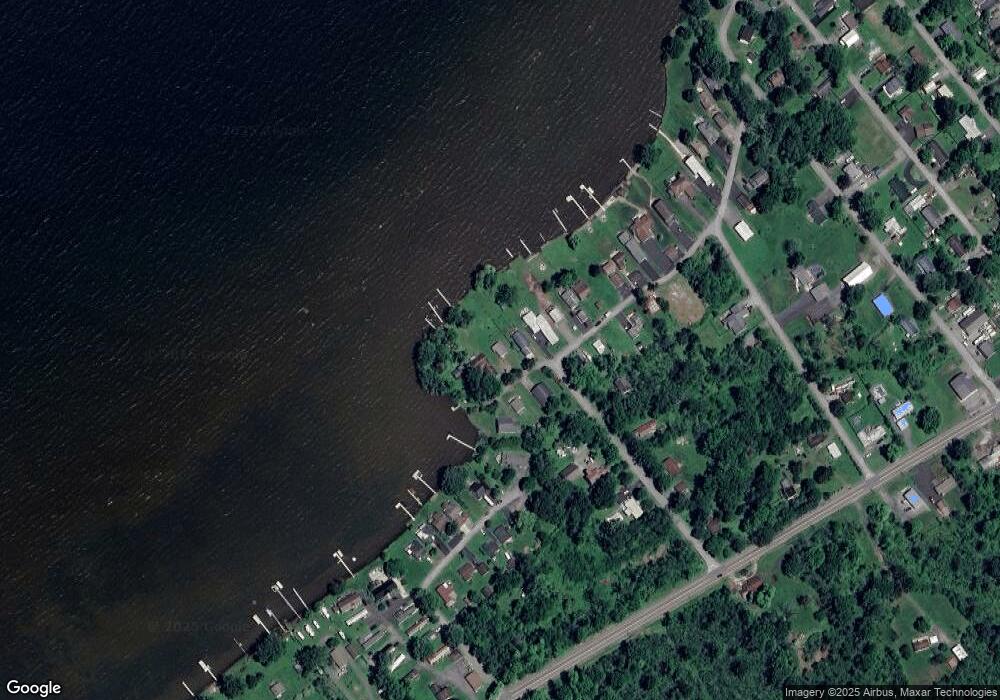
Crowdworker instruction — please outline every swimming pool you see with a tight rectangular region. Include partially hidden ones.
[873,293,895,316]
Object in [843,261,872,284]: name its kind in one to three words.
barn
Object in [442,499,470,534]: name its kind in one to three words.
house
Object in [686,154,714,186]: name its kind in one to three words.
house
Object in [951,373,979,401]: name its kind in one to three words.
building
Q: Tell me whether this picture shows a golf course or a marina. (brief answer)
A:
marina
